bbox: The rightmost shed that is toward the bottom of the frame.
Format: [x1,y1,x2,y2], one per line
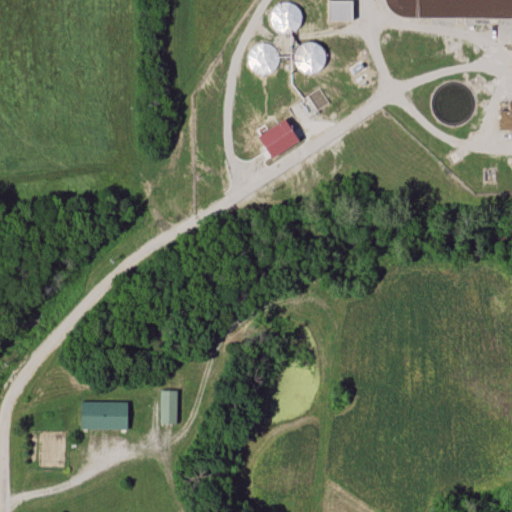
[160,390,178,426]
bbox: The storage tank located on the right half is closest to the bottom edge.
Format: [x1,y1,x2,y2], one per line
[430,80,478,128]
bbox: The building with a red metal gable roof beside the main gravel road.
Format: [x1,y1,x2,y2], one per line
[260,120,300,157]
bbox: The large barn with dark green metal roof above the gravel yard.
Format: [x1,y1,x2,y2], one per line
[81,402,128,431]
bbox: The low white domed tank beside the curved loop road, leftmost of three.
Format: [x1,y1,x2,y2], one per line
[247,43,280,76]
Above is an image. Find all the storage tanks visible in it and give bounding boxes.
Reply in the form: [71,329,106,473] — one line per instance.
[247,43,280,76]
[270,0,303,34]
[294,42,328,75]
[430,80,478,128]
